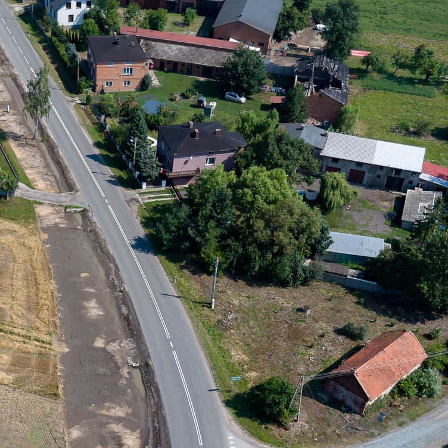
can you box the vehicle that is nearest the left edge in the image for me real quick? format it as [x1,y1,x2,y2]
[196,93,208,108]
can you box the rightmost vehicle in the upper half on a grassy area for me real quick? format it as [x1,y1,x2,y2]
[223,90,247,104]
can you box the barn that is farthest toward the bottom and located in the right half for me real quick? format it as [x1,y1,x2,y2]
[328,330,431,416]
